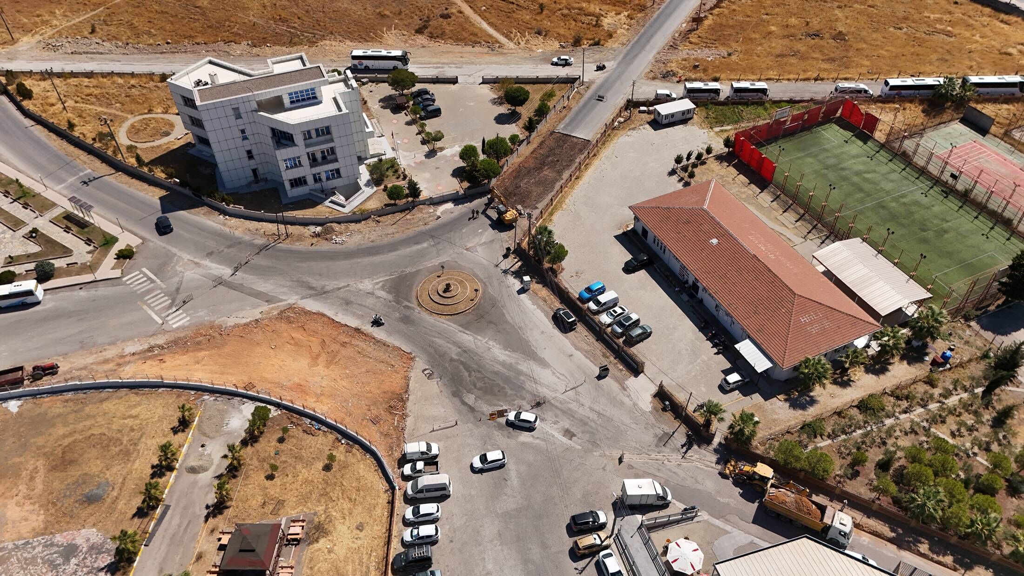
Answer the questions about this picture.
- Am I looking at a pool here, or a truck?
truck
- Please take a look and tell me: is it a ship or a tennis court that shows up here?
tennis court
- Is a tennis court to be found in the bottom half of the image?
No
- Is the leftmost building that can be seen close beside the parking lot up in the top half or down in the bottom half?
top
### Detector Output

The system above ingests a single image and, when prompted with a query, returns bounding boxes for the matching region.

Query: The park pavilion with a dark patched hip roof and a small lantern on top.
[220,524,285,576]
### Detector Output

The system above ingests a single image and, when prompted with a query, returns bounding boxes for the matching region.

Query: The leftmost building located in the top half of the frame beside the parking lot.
[167,53,368,196]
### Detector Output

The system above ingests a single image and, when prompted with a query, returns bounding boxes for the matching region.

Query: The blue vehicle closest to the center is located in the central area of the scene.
[577,283,607,304]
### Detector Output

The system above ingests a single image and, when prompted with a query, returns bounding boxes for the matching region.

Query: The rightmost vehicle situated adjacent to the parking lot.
[492,193,519,231]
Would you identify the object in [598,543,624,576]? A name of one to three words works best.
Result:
car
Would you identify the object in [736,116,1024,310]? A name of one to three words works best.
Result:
soccer field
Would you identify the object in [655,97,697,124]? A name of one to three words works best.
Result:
building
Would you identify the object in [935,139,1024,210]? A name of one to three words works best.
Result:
tennis court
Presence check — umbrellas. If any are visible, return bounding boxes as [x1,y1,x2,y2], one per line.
[666,539,704,576]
